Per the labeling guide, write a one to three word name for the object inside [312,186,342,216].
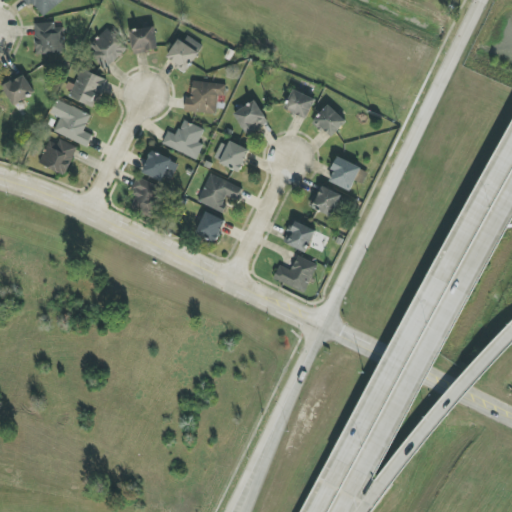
house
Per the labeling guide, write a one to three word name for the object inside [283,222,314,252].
house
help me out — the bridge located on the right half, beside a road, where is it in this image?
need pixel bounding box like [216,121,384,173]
[300,121,512,512]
